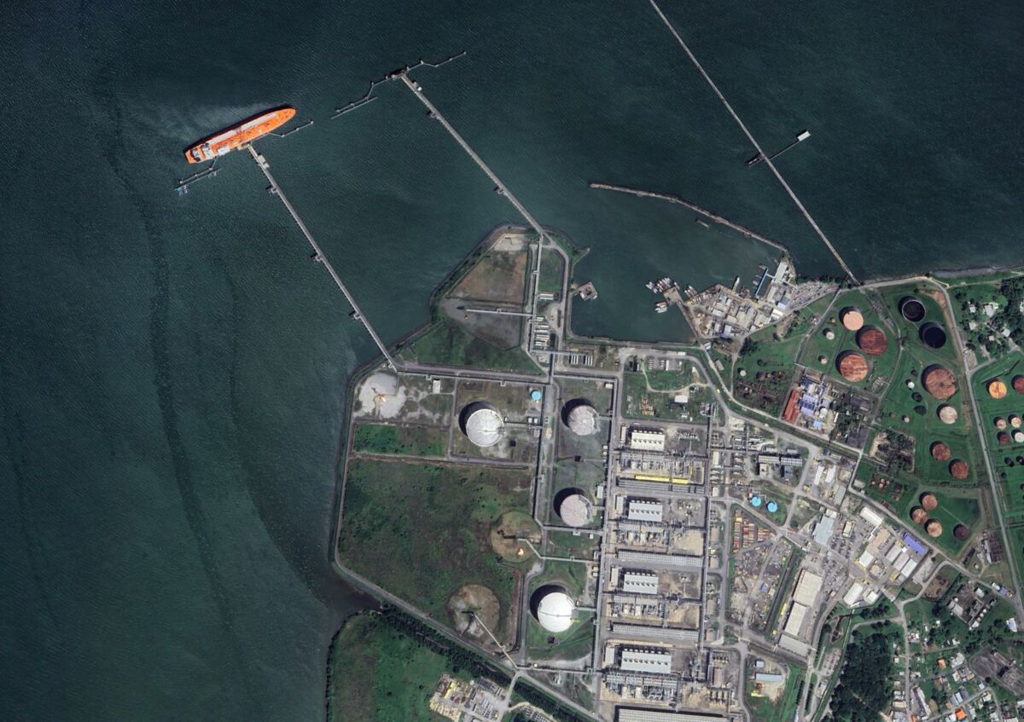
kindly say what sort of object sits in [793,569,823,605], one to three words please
building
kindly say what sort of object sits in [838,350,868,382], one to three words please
storage tank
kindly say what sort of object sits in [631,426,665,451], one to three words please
building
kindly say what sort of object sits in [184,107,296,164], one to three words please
ship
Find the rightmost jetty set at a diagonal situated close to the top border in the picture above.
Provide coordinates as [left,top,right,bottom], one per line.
[652,0,858,285]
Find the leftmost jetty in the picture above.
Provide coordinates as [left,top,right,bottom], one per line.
[252,146,397,371]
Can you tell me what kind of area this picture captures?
port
